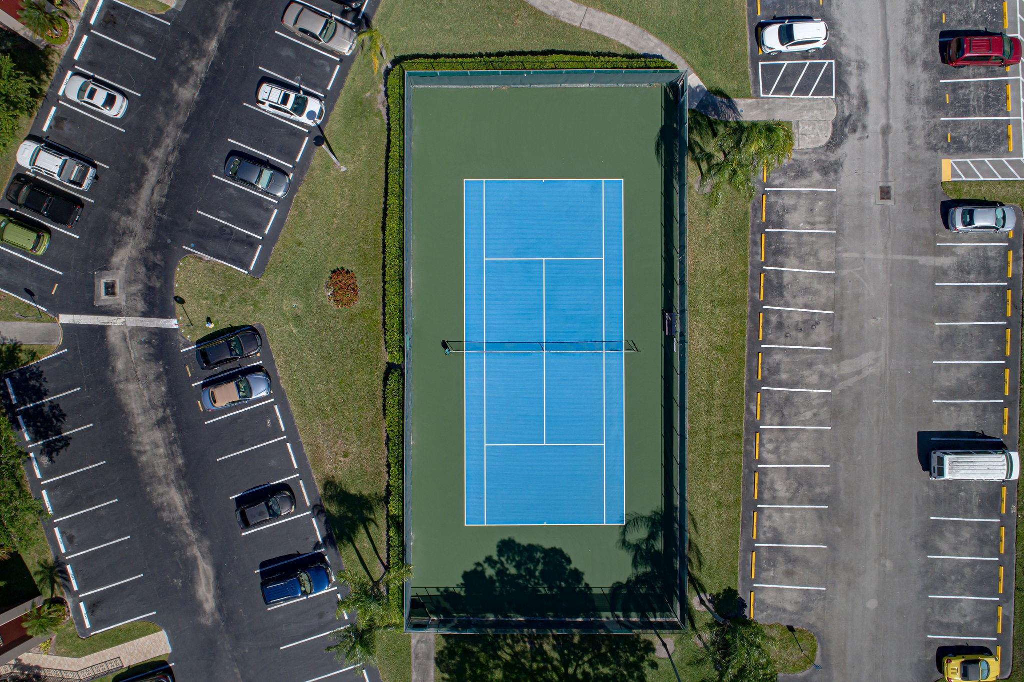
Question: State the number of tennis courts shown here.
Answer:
1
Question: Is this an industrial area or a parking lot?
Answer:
parking lot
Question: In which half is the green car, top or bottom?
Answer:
top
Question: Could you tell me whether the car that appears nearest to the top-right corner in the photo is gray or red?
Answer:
red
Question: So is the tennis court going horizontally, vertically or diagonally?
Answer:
vertically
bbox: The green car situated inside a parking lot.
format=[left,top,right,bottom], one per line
[0,214,50,255]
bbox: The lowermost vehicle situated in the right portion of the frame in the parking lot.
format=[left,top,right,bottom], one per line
[942,652,1000,682]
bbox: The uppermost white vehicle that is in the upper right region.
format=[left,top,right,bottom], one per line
[760,20,828,56]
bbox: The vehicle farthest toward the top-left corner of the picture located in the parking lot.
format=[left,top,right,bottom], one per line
[64,76,131,120]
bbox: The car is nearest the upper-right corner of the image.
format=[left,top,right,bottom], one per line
[948,33,1022,68]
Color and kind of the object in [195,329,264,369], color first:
black car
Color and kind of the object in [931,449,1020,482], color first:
white van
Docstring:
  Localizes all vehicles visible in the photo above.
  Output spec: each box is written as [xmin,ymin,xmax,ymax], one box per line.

[948,33,1022,68]
[760,20,828,56]
[931,449,1020,482]
[0,214,50,255]
[224,154,292,197]
[260,562,333,605]
[64,76,131,120]
[195,329,264,369]
[942,652,1000,682]
[202,372,272,411]
[17,140,97,191]
[282,1,358,56]
[6,177,85,228]
[948,203,1016,234]
[256,81,326,129]
[235,491,295,529]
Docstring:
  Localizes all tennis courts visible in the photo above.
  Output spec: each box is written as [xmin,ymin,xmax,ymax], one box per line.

[411,83,680,622]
